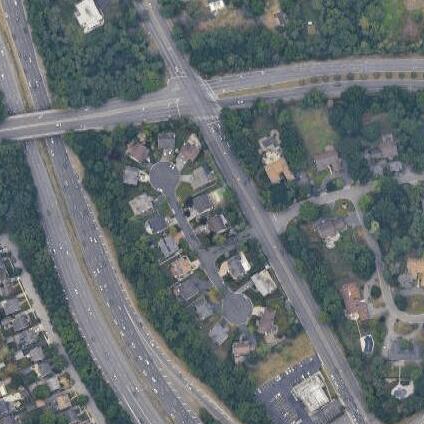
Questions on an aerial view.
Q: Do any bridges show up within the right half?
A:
No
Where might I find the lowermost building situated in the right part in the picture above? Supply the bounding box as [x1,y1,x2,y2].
[291,372,329,415]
